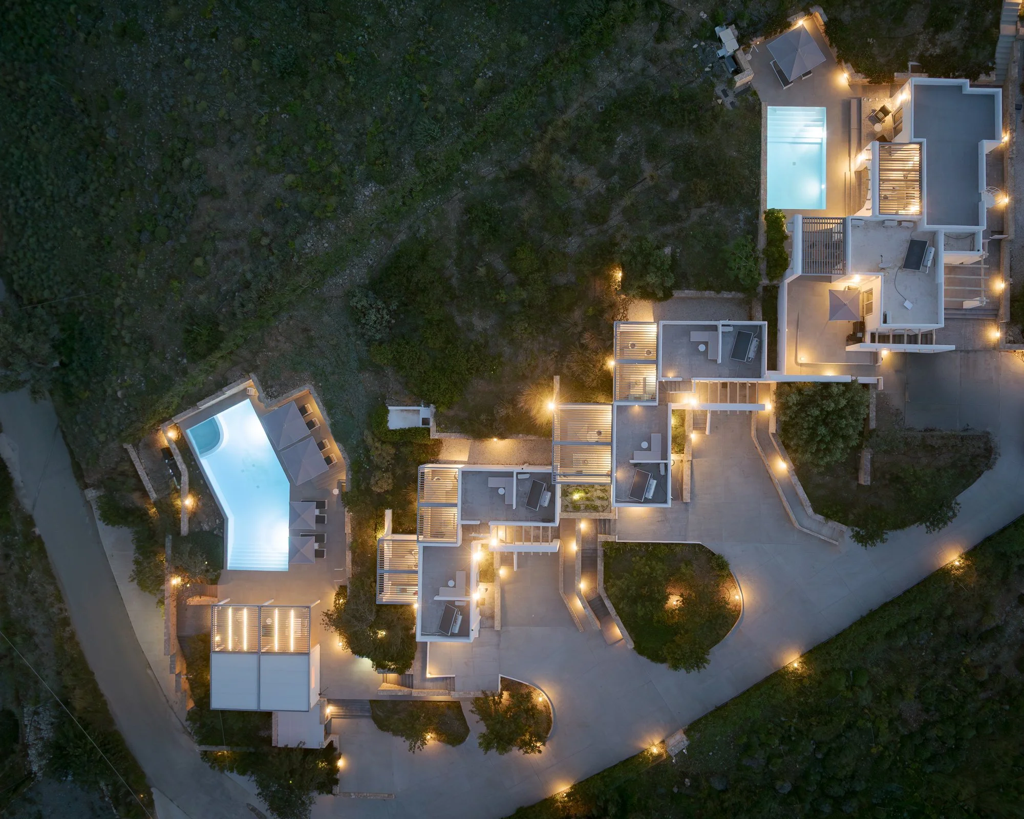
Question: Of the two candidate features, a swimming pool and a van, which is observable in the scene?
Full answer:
The one in the frame is a swimming pool.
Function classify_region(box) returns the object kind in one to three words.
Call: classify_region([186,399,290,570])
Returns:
swimming pool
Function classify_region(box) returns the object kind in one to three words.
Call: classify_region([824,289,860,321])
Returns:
umbrella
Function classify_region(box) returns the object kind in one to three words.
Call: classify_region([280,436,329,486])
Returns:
umbrella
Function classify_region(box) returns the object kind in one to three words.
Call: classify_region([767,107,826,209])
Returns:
swimming pool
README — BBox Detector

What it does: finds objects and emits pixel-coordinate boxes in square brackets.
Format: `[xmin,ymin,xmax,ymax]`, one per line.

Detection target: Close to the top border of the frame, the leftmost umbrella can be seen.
[766,24,826,82]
